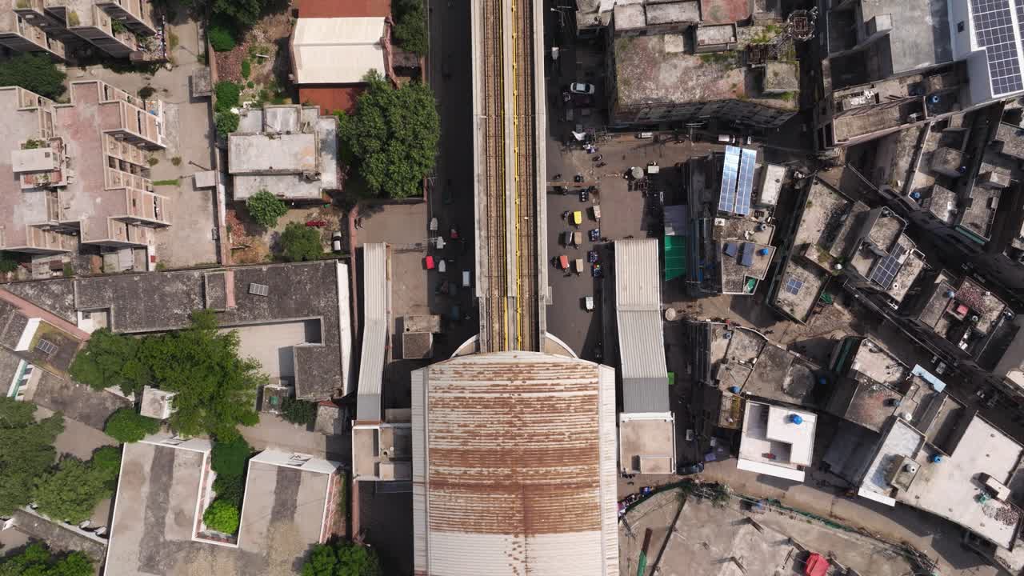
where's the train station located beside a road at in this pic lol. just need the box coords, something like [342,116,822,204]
[412,331,619,576]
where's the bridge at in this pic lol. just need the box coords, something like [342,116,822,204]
[470,0,554,352]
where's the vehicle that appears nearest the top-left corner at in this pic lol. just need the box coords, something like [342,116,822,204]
[331,230,344,252]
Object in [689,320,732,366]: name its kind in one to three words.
house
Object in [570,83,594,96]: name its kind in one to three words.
vehicle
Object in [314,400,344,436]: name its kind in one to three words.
shed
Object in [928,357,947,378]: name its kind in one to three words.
car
